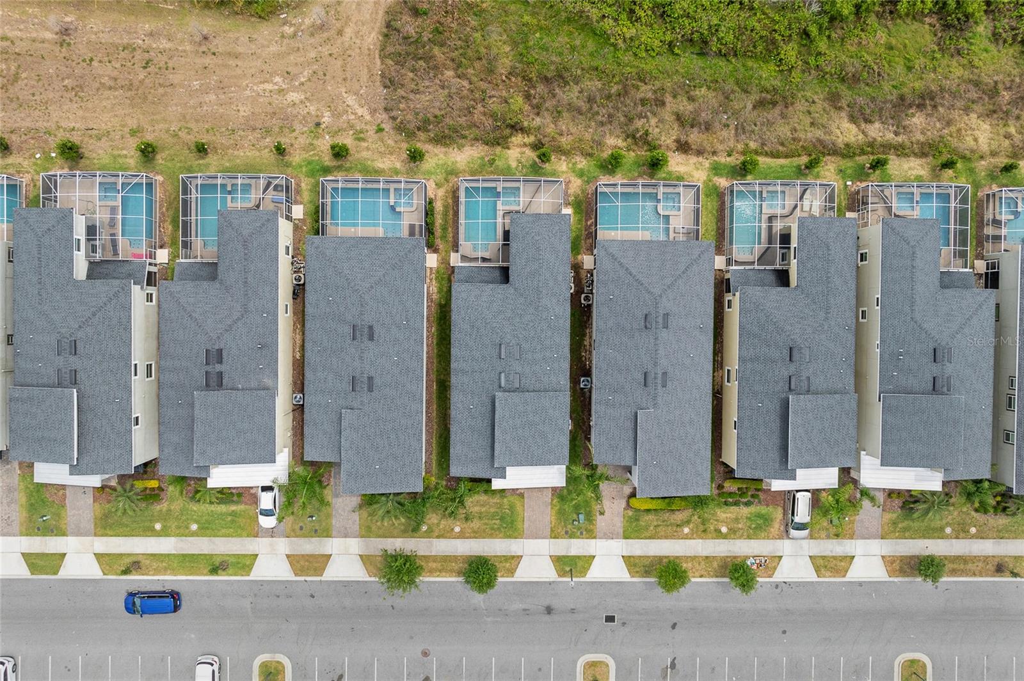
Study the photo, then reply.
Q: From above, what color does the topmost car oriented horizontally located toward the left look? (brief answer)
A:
blue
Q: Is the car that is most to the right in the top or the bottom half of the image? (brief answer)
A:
bottom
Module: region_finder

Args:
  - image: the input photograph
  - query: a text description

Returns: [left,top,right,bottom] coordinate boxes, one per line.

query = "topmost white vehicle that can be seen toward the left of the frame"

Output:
[256,486,281,530]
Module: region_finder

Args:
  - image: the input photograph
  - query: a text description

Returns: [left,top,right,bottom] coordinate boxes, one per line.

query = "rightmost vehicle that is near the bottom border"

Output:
[198,653,222,681]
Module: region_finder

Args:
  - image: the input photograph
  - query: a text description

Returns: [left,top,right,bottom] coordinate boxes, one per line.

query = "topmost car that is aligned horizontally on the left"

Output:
[129,589,183,616]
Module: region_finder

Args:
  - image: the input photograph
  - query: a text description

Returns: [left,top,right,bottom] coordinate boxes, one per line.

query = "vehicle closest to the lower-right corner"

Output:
[784,491,812,540]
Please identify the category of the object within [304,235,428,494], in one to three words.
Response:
house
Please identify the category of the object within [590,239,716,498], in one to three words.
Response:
house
